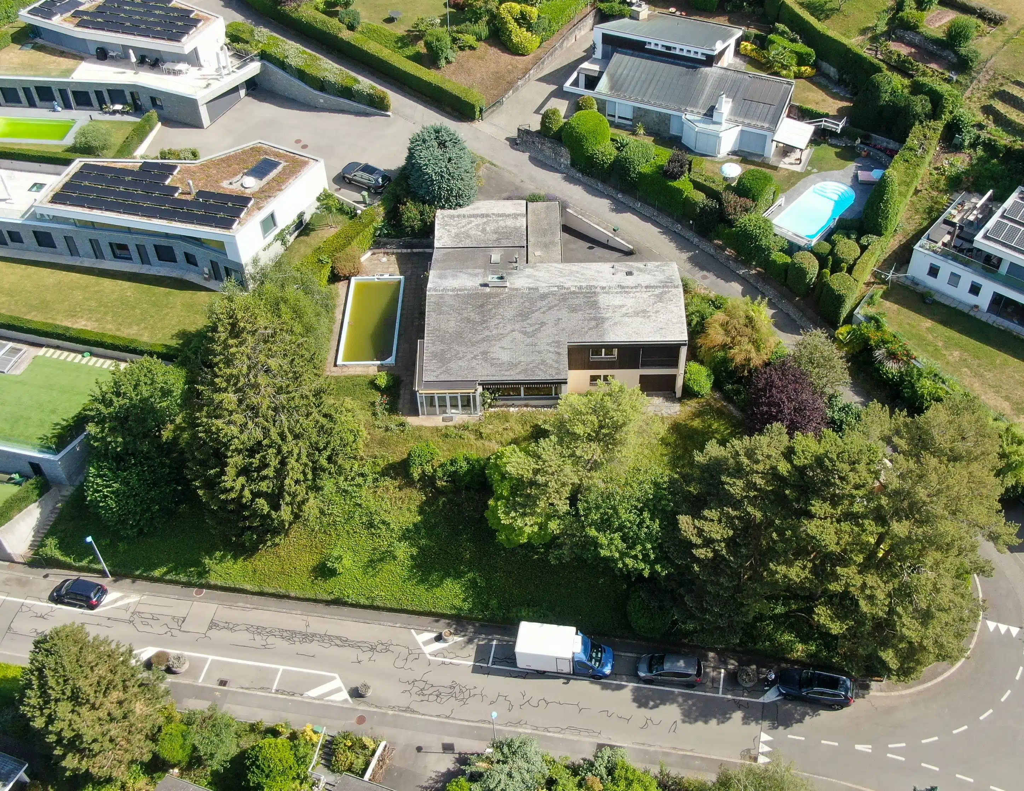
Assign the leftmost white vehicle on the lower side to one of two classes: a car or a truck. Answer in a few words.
truck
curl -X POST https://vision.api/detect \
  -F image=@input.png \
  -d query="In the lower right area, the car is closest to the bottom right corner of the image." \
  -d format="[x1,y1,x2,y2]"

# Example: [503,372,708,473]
[778,669,863,715]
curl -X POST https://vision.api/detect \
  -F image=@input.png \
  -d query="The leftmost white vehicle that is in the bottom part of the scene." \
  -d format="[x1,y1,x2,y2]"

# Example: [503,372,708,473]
[511,620,616,687]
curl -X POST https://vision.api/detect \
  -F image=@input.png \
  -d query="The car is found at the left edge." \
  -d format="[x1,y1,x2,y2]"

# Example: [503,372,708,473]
[46,574,108,613]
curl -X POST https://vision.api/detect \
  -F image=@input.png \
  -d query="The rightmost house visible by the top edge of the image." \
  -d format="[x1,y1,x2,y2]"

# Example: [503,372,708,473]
[562,0,795,158]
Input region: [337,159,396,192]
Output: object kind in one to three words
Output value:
car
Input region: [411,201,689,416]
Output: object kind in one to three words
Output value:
house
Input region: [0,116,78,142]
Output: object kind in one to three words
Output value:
swimming pool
